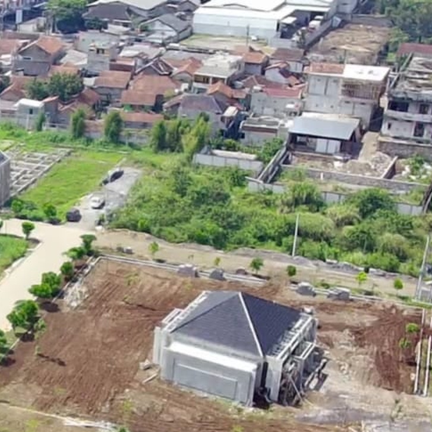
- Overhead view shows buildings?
Yes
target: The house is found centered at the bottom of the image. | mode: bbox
[153,284,328,405]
